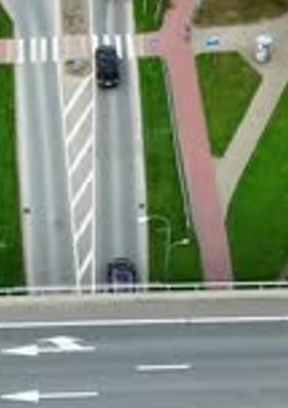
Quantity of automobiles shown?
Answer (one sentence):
Altogether the scene contains 3 automobiles.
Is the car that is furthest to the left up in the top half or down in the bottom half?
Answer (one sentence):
You can find the car that is furthest to the left in the top half.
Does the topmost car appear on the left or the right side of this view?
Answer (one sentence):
The topmost car sits on the right side.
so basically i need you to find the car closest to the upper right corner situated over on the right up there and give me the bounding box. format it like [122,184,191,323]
[253,37,275,64]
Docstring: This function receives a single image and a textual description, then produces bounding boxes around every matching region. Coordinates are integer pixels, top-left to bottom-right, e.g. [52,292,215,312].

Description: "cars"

[106,263,137,292]
[95,46,121,90]
[253,37,275,64]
